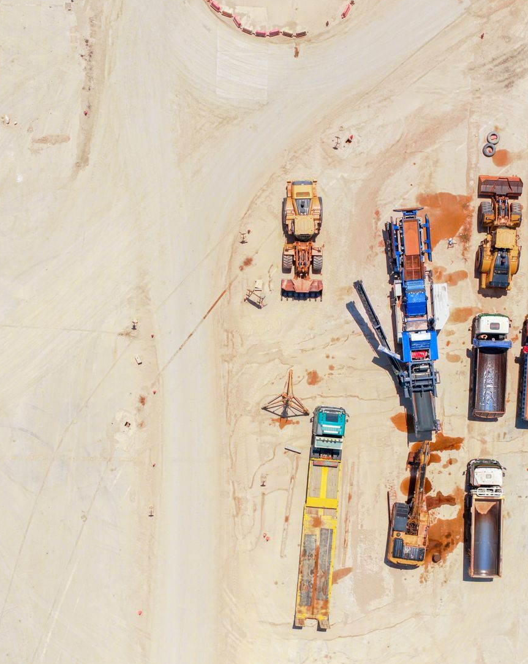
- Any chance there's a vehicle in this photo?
Yes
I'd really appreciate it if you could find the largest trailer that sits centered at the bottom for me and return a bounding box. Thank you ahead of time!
[296,459,342,628]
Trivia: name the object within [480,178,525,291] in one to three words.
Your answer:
work vehicle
